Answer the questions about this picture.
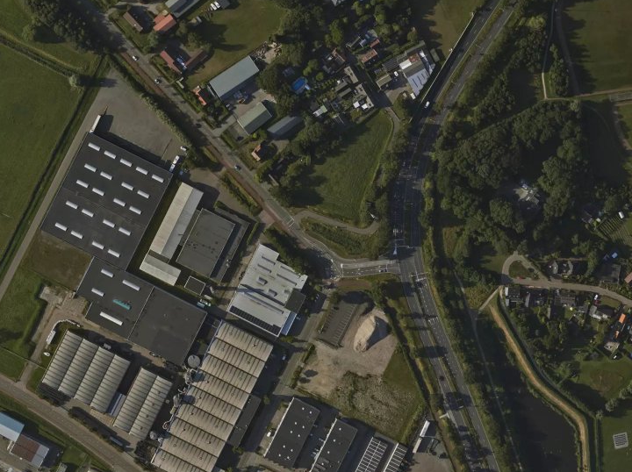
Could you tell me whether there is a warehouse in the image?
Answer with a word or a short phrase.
Yes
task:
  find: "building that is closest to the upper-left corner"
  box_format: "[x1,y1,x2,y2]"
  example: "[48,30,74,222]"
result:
[126,9,149,33]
